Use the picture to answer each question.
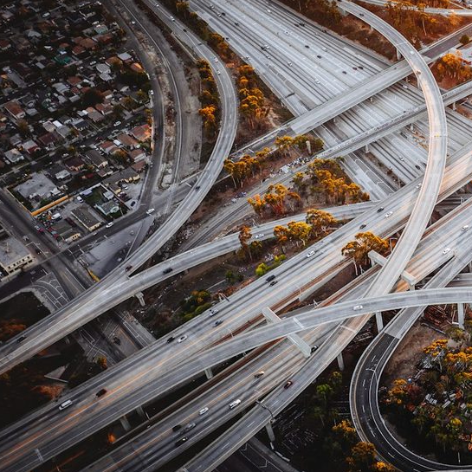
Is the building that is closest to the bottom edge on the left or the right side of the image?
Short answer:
left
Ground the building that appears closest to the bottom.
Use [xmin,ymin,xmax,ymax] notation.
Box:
[0,232,39,279]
